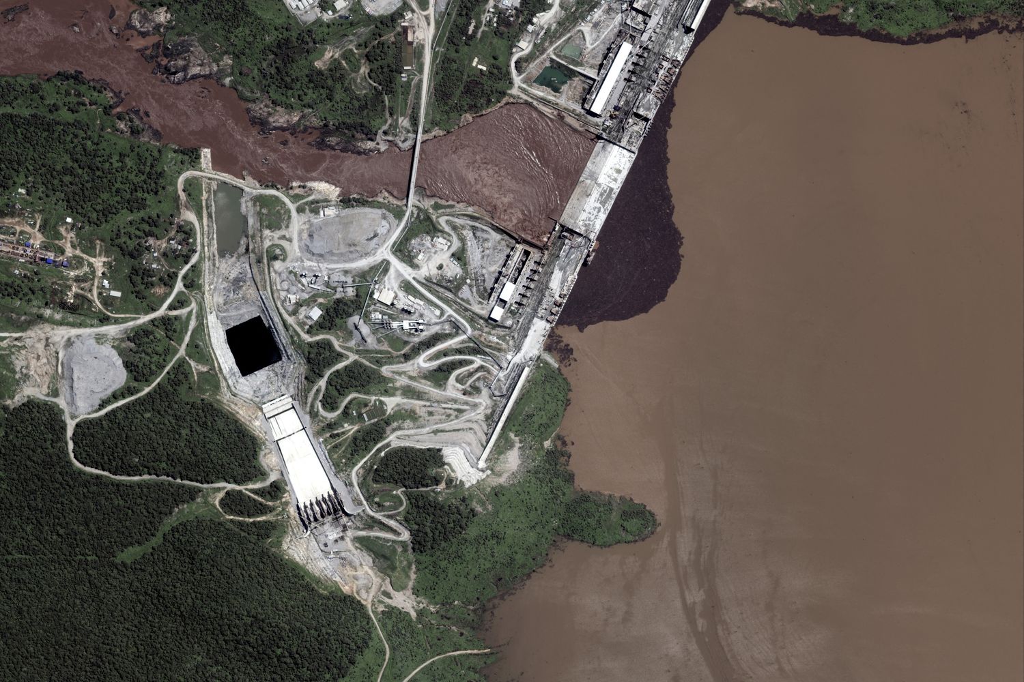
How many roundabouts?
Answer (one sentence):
I count no roundabouts.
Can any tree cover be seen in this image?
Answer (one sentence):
Yes, the picture does contain tree cover.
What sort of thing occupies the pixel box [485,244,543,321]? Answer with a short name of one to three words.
building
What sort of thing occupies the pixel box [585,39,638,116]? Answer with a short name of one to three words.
building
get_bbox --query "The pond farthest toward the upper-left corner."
[215,182,248,261]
